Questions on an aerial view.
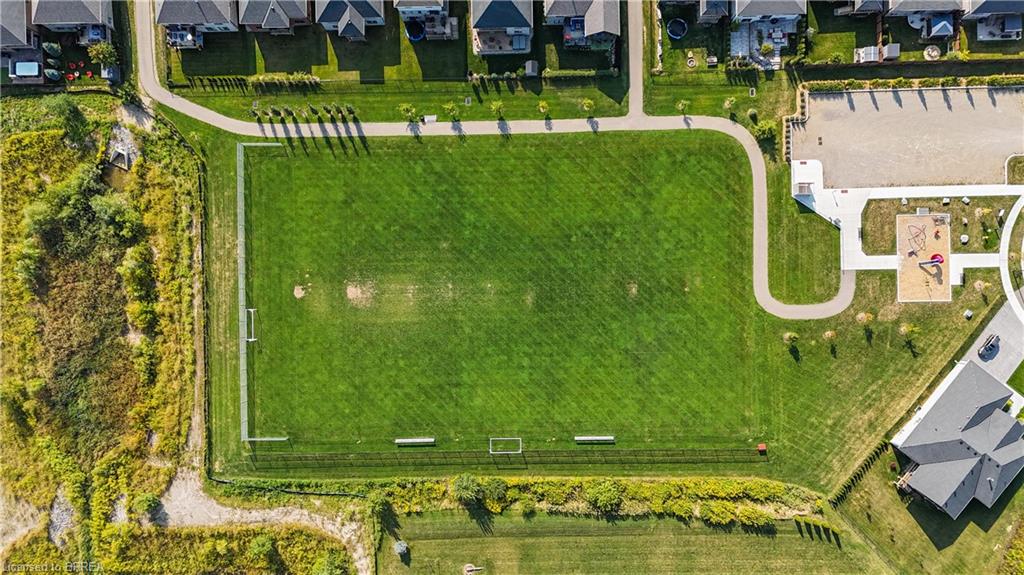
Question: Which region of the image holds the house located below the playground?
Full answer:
The house located below the playground appears toward the bottom right of the photo.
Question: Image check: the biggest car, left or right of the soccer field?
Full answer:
Looking at the picture, you'll find the biggest car to the right of the soccer field.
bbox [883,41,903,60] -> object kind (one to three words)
shed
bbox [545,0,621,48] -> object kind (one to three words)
house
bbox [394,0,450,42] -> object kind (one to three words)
house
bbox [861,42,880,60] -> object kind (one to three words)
shed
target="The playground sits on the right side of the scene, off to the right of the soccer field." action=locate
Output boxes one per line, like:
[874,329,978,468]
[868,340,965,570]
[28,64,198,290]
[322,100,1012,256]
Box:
[897,214,953,303]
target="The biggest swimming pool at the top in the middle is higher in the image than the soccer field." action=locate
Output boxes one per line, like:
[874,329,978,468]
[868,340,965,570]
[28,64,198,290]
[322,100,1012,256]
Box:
[404,17,426,40]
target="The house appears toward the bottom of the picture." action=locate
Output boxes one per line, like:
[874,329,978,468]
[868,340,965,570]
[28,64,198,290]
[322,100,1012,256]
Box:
[887,360,1024,521]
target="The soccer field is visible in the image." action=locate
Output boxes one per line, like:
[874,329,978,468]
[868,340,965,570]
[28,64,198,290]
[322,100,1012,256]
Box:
[252,141,770,452]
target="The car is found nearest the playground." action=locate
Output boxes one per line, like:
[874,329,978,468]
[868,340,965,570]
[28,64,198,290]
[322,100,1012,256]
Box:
[975,334,998,356]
